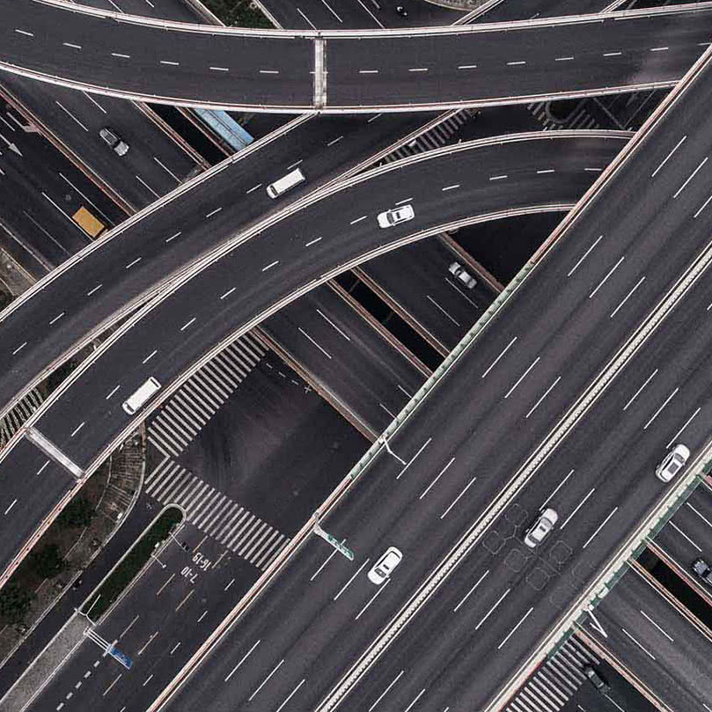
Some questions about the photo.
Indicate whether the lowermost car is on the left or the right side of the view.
right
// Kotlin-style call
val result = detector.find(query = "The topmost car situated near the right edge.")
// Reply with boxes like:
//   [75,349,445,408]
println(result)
[652,443,691,483]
